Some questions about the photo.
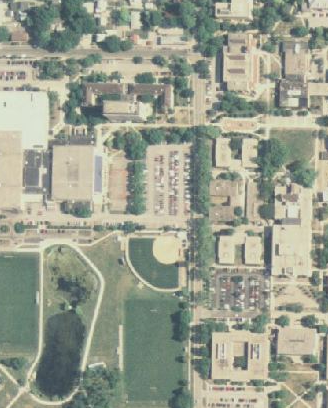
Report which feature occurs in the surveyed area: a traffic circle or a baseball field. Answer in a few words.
baseball field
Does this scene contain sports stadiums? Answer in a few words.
Yes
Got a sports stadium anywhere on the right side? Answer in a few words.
No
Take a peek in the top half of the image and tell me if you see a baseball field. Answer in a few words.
No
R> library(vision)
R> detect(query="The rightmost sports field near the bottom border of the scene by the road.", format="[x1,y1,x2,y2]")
[124,296,184,402]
